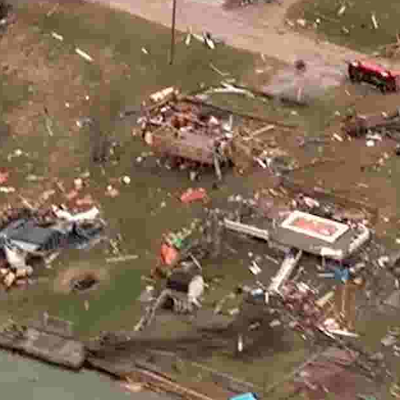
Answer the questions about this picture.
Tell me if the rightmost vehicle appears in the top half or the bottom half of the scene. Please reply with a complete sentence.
The rightmost vehicle sits in the top half of the picture.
